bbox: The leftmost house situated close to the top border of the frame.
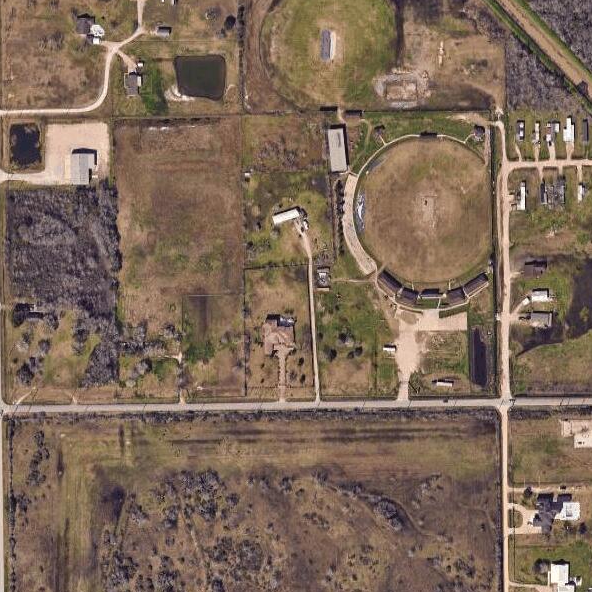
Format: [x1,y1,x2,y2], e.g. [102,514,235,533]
[76,14,100,44]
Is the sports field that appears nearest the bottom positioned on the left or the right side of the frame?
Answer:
right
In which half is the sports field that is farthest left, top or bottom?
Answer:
top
